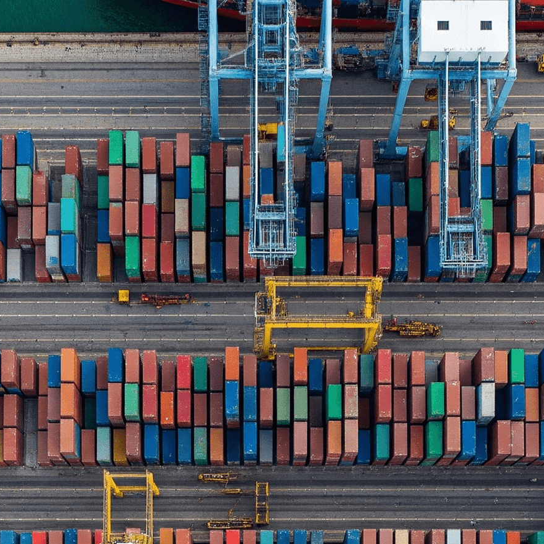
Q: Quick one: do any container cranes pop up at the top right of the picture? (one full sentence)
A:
Yes, I can see a container crane at the top right of the picture.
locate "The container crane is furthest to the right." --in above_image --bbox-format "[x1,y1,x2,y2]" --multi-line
[365,0,521,281]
